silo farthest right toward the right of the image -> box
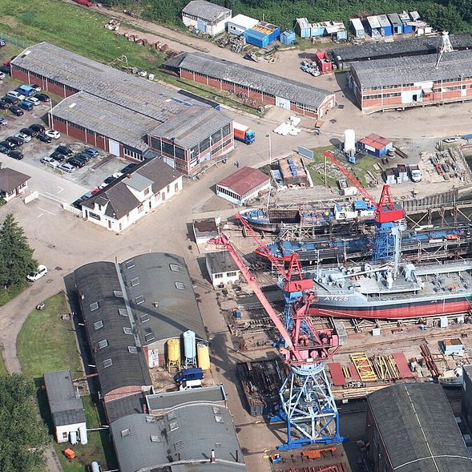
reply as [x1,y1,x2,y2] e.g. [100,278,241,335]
[343,125,355,157]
